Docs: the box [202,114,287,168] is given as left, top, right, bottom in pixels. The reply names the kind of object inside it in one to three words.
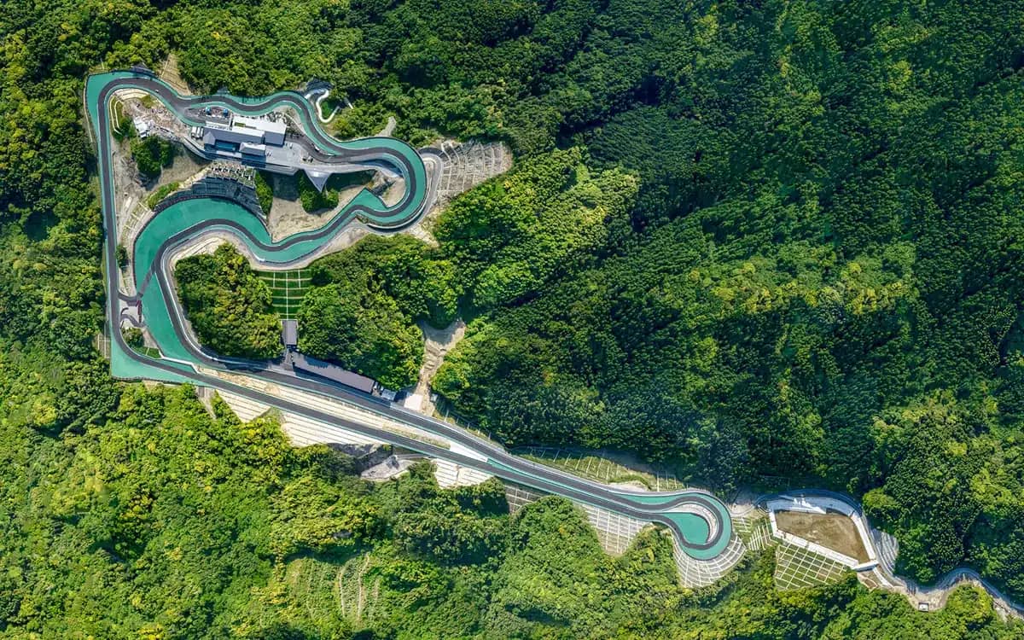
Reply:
building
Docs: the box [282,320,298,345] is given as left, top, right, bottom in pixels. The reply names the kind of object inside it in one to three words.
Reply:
building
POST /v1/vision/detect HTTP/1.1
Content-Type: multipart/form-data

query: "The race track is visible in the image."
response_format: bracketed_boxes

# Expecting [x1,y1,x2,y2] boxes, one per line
[98,76,725,551]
